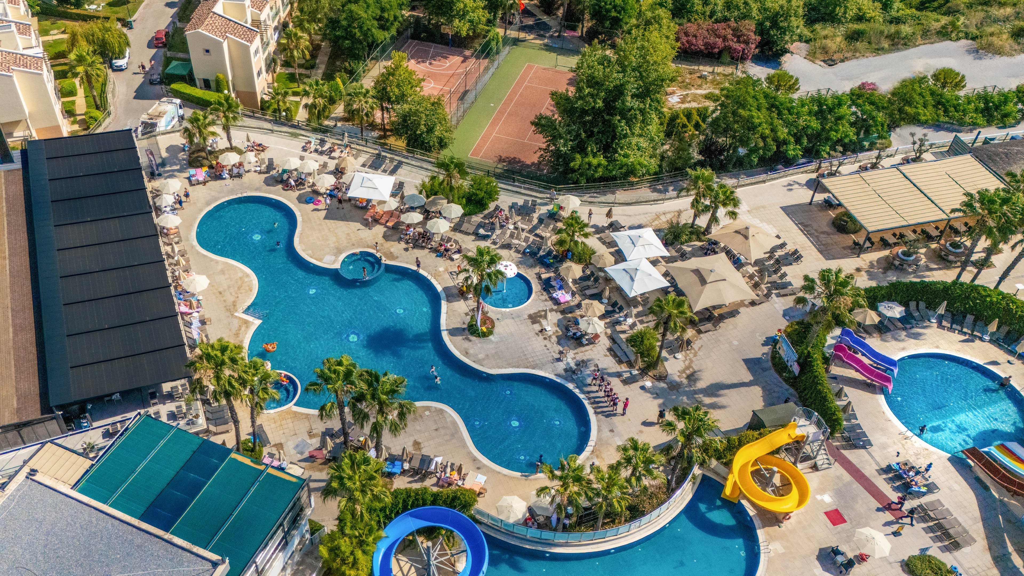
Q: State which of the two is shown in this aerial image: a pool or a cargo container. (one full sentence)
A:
The image shows a pool.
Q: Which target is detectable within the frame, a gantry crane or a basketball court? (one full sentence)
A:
I can see a basketball court in this picture.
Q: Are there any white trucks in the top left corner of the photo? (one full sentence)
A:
Yes, I can see a white truck in the top left corner of the photo.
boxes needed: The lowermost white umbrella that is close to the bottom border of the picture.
[849,525,891,565]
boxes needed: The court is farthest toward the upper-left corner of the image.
[348,40,489,125]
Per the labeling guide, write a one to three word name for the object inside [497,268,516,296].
fountain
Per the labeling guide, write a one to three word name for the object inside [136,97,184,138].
truck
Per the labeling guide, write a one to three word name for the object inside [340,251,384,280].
swimming pool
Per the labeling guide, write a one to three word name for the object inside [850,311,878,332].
umbrella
